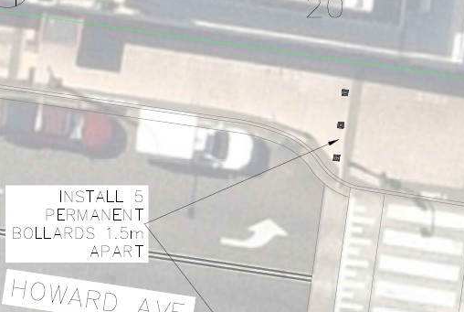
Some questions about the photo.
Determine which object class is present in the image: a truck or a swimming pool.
truck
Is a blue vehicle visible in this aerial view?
No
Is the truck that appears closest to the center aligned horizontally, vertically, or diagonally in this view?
horizontally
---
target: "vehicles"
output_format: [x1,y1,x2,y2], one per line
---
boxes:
[132,107,255,165]
[0,94,113,150]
